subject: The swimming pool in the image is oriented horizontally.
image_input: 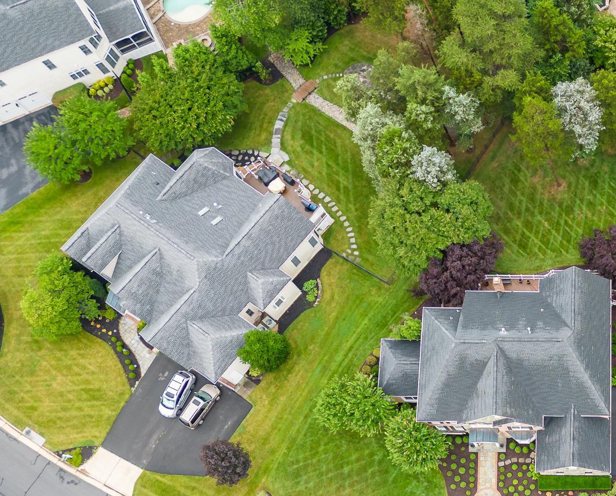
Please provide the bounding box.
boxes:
[161,0,208,22]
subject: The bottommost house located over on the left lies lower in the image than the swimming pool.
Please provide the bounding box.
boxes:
[60,145,340,393]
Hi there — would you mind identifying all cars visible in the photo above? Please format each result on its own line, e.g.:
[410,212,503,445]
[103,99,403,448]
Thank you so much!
[181,387,219,431]
[162,371,196,418]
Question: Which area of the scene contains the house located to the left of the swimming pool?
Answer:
top left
